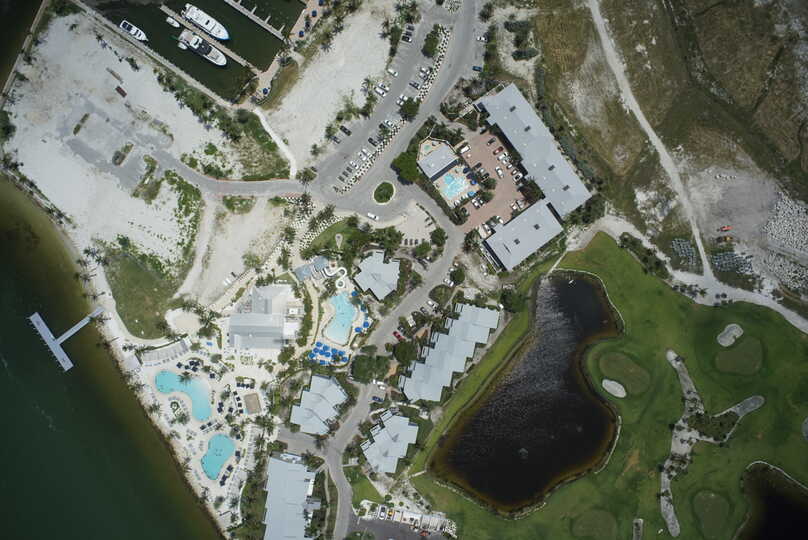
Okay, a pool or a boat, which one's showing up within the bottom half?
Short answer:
pool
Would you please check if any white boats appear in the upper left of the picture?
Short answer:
Yes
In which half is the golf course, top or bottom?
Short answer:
bottom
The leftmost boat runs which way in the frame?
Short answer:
on a diagonal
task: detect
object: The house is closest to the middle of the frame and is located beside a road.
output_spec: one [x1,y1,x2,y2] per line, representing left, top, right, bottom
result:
[354,252,400,301]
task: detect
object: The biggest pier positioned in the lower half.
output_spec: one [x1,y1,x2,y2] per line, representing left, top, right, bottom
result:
[26,306,103,373]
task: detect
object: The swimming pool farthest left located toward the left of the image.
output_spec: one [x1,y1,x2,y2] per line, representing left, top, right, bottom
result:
[153,369,214,423]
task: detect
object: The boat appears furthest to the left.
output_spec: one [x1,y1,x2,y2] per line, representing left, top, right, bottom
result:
[120,19,148,40]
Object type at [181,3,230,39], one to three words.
boat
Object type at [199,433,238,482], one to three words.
swimming pool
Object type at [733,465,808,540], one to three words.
pond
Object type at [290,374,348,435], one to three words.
house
